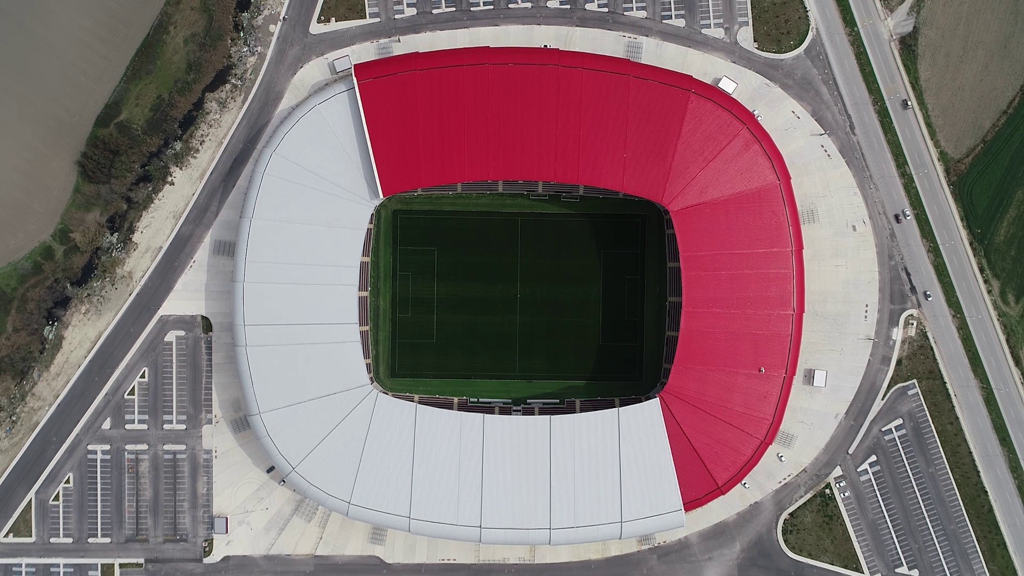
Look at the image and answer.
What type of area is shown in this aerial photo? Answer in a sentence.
The area seen from above is a sports ground.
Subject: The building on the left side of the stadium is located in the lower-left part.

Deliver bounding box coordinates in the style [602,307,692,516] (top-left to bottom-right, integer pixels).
[214,515,231,534]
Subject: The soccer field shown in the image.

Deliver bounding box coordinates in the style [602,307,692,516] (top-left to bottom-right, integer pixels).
[370,193,667,407]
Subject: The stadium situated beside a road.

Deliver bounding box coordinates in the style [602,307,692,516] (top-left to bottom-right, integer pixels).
[231,45,806,546]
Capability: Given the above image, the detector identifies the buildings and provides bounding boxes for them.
[333,55,353,74]
[214,515,231,534]
[810,369,827,387]
[716,76,738,96]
